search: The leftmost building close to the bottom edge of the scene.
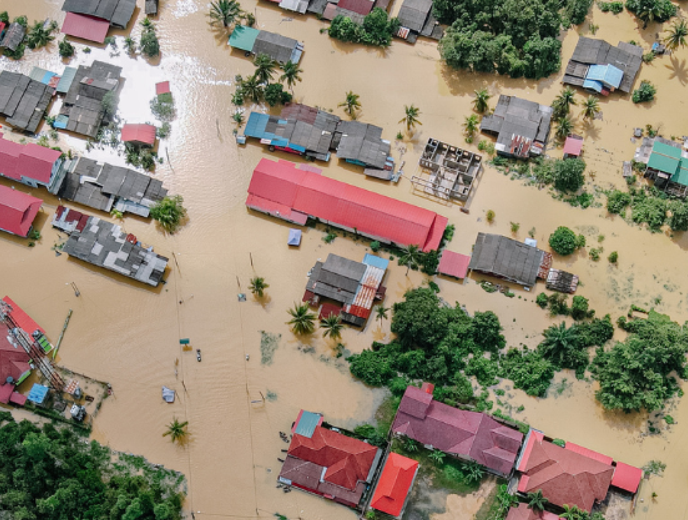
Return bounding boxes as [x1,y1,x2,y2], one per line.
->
[279,409,374,508]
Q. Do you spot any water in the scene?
Yes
